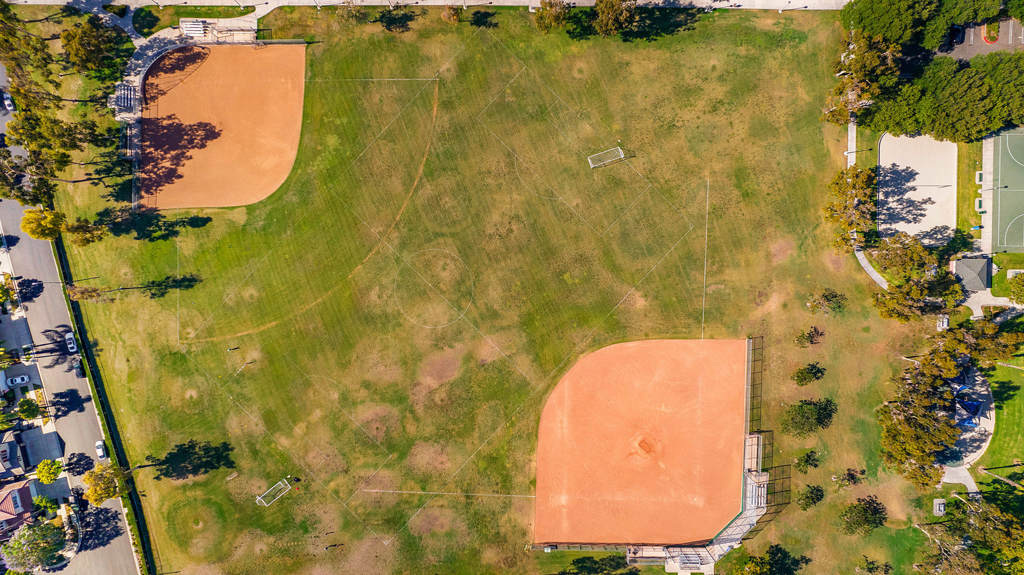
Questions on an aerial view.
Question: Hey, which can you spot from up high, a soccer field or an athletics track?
soccer field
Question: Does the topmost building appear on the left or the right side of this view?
right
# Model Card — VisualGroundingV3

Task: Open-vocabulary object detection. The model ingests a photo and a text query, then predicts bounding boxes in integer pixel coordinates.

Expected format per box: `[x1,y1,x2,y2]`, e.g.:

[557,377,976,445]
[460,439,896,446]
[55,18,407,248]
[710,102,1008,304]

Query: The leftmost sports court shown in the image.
[877,130,959,247]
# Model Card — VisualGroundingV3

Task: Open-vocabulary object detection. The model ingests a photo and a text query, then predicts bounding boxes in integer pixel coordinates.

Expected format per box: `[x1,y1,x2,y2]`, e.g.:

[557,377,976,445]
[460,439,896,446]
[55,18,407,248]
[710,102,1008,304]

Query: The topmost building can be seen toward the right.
[950,259,987,290]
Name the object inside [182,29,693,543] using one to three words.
soccer field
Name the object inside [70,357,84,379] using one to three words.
car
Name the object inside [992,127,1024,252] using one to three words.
basketball court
